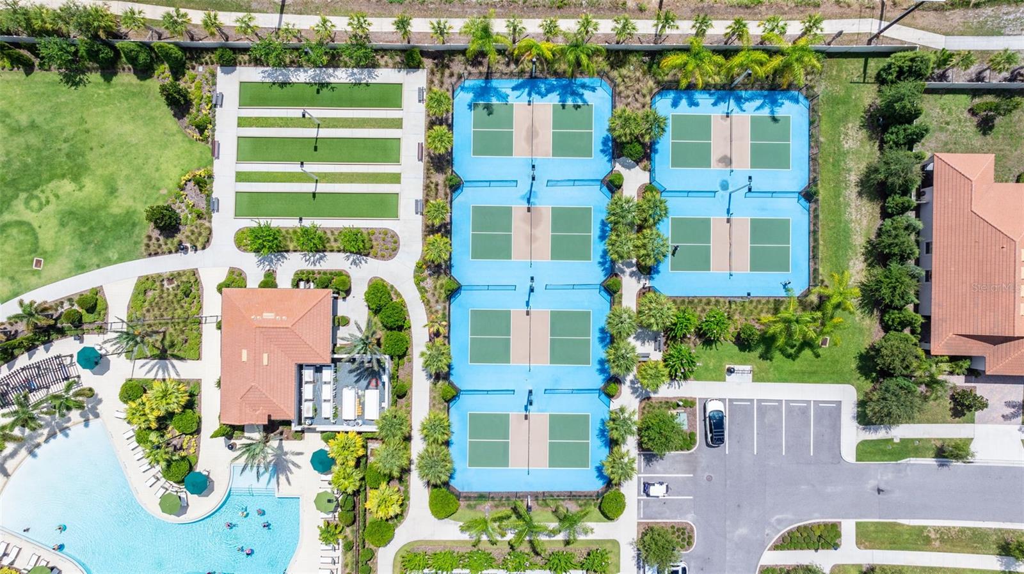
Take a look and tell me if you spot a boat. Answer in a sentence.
No, I can see no boat in this picture.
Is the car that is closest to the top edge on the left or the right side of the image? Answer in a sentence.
It is on the right.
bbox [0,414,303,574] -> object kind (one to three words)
swimming pool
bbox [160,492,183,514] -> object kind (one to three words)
umbrella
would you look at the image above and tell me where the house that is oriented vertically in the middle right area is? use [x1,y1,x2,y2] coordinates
[910,152,1024,375]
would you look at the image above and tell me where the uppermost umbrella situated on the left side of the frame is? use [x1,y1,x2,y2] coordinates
[78,346,104,369]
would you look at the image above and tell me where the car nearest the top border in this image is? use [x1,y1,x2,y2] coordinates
[703,399,727,446]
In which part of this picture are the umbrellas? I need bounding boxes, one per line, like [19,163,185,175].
[186,471,209,494]
[311,449,334,472]
[160,492,183,514]
[315,490,338,513]
[78,346,104,369]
